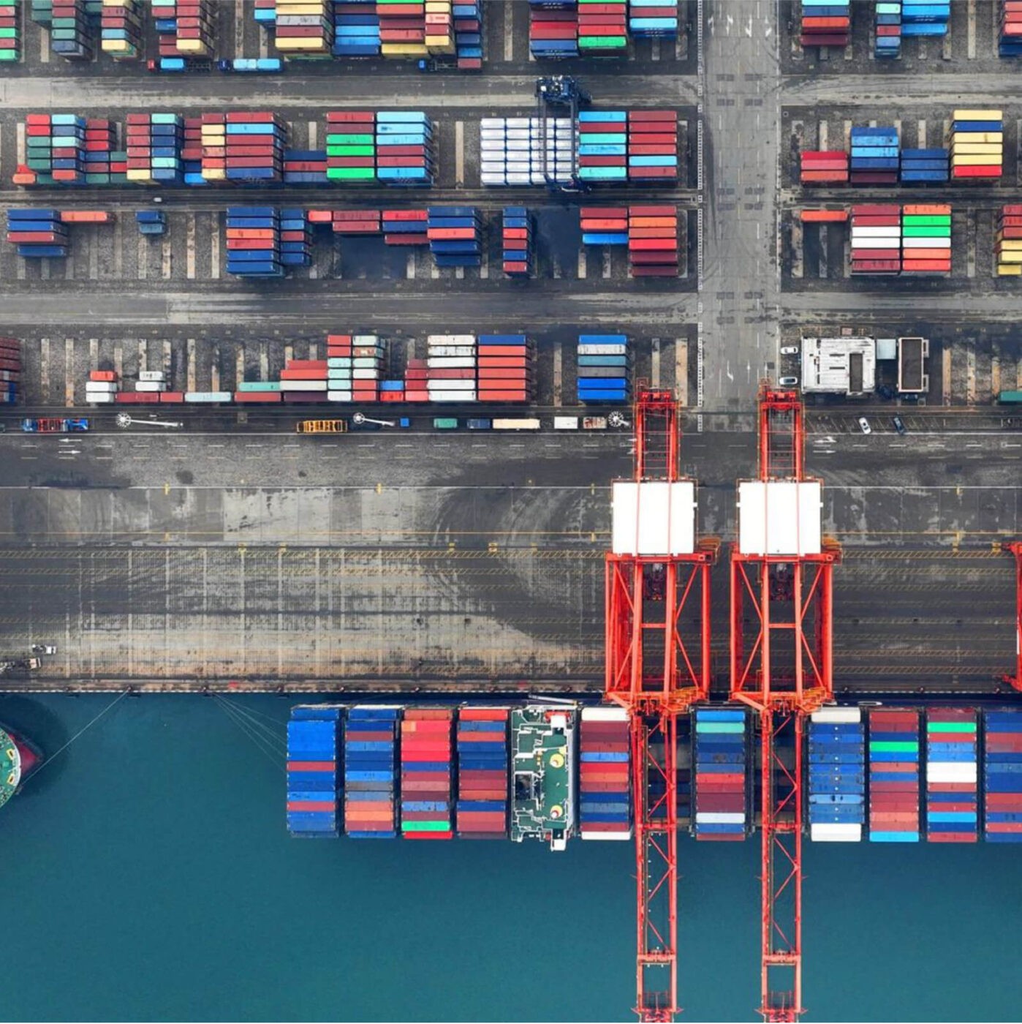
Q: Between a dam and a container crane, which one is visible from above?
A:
container crane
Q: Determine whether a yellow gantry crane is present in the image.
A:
No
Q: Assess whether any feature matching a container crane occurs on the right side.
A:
Yes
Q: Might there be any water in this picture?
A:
Yes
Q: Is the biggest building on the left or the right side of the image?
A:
right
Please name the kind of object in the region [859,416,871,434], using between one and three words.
vehicle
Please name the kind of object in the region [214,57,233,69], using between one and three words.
vehicle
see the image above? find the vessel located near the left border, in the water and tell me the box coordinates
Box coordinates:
[0,720,42,802]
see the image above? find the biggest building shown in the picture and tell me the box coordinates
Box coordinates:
[803,338,875,395]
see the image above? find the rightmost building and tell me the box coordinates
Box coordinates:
[897,337,929,392]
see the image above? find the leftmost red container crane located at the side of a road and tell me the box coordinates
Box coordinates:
[600,376,730,1024]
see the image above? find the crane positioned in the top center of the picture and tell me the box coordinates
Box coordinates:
[537,78,600,201]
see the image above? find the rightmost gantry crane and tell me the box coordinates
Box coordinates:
[996,544,1022,689]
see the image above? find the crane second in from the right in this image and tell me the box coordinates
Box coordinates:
[717,376,848,1024]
